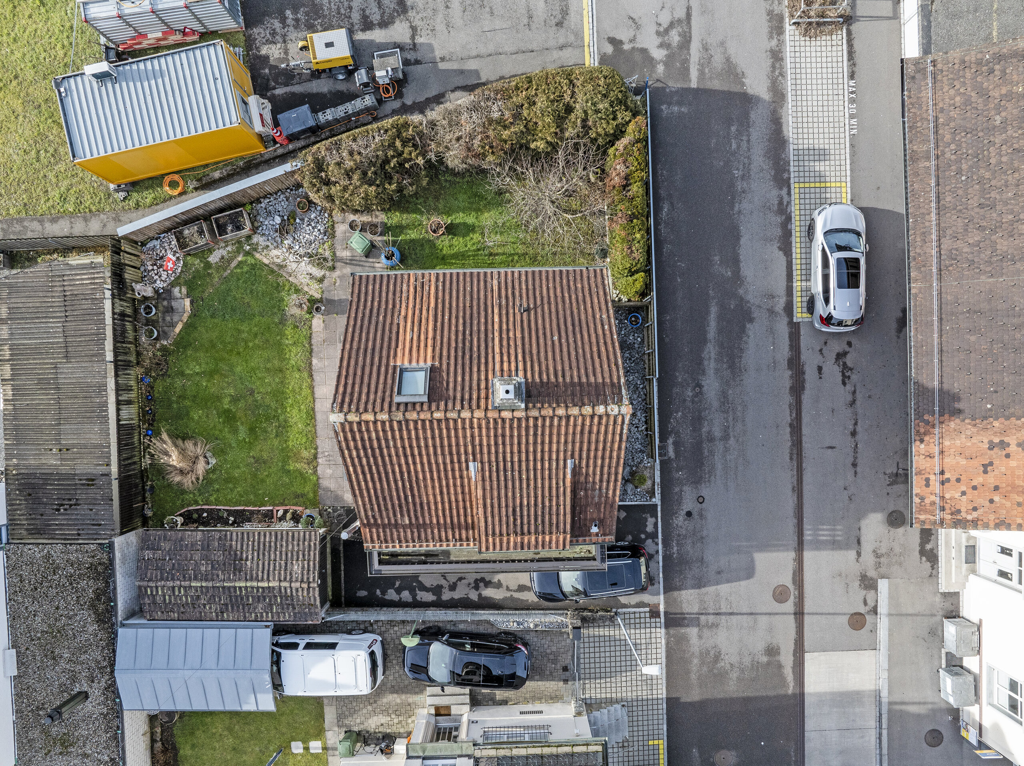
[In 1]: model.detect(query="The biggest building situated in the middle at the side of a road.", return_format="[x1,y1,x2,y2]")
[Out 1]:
[327,263,634,577]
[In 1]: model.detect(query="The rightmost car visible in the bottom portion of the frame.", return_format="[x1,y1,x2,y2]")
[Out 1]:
[527,536,655,610]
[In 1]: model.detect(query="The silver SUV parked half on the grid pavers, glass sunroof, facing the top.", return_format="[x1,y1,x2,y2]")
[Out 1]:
[801,204,871,332]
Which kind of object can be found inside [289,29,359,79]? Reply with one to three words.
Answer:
trailer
